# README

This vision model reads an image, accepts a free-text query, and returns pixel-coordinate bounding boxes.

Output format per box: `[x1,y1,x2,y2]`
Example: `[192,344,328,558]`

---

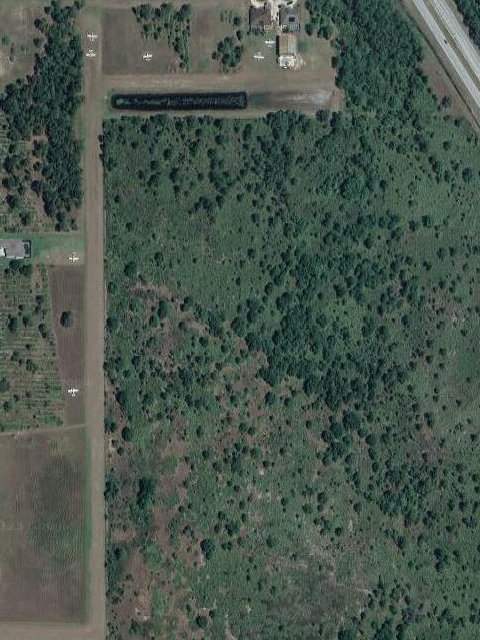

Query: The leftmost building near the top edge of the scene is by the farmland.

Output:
[251,3,272,26]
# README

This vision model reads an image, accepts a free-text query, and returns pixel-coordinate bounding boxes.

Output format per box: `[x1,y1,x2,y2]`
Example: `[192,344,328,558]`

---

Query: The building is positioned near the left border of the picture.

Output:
[0,239,24,256]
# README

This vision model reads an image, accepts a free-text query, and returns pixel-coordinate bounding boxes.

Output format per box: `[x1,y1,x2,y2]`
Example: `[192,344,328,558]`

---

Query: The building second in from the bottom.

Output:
[280,33,299,56]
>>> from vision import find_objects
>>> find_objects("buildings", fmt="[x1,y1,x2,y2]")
[251,3,272,26]
[280,6,300,26]
[280,33,299,56]
[0,239,24,256]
